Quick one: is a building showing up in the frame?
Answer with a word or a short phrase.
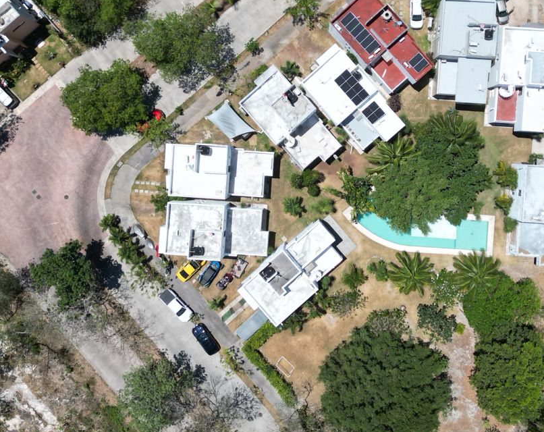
Yes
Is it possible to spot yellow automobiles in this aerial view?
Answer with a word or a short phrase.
Yes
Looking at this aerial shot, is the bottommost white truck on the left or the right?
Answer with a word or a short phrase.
left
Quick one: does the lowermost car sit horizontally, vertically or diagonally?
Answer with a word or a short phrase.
diagonally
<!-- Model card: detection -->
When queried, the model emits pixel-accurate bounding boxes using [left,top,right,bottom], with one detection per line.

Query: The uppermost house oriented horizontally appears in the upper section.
[164,143,275,199]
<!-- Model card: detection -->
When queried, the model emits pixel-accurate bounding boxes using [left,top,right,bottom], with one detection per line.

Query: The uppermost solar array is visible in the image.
[341,13,380,54]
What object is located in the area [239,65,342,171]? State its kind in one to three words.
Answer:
house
